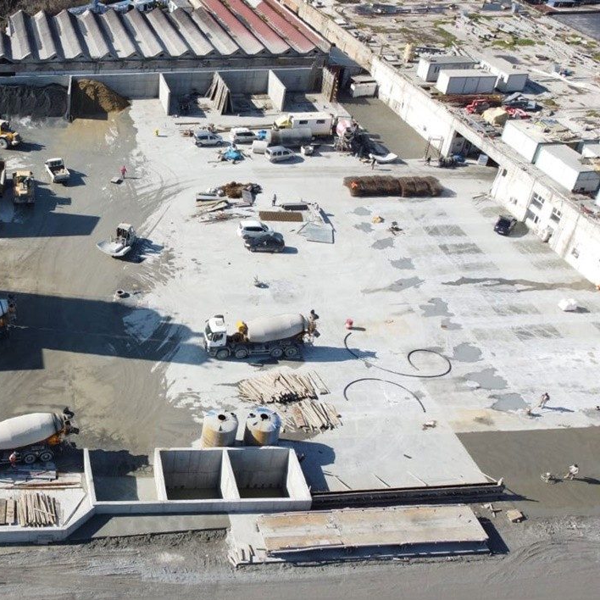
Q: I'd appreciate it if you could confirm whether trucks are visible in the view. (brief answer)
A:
Yes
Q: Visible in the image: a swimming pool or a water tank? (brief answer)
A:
water tank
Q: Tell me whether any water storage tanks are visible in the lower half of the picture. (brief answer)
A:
Yes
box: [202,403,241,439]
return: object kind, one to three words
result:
water tank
